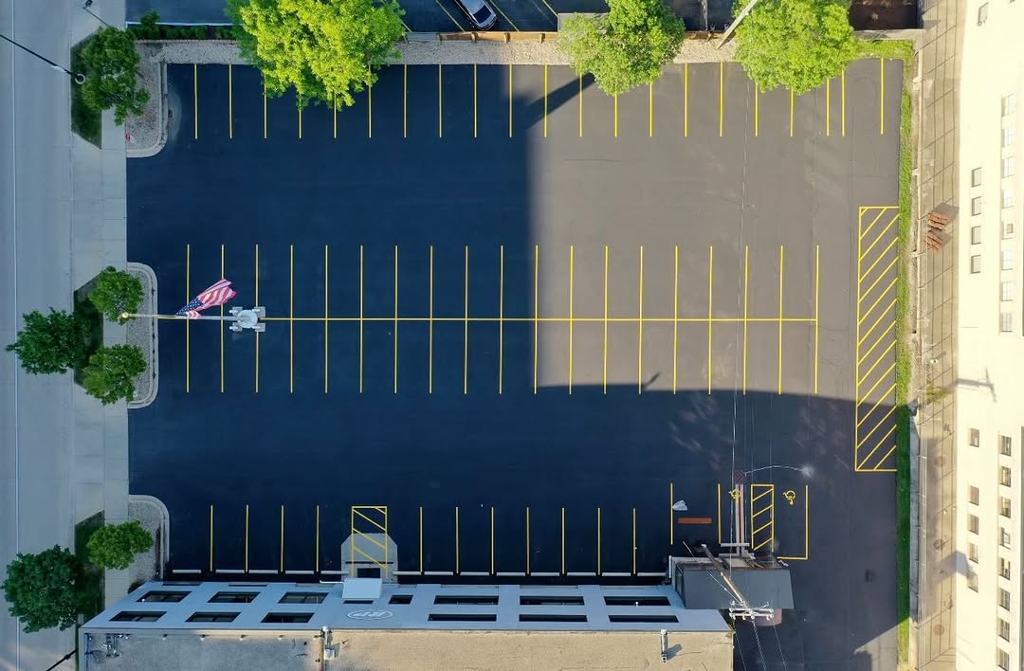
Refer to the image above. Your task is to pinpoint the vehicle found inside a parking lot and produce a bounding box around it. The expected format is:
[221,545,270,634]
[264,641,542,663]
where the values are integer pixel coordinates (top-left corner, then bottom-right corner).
[456,0,497,27]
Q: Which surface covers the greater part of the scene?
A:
paved ground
